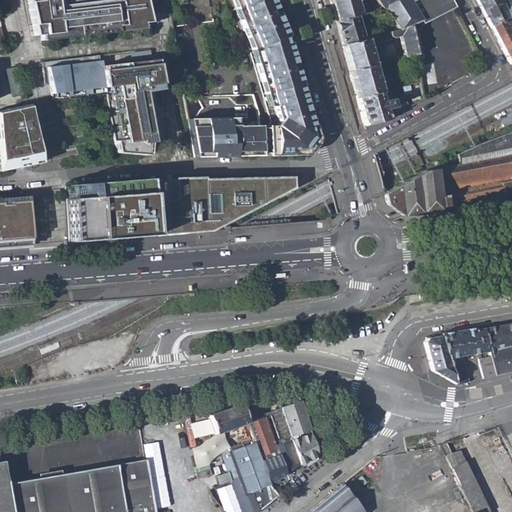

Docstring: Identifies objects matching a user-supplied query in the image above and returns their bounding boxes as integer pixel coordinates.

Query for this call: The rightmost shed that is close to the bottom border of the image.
[446,450,490,512]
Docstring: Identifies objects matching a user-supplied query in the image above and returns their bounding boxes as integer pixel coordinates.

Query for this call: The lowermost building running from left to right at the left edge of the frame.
[16,465,130,512]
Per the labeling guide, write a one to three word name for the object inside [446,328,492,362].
house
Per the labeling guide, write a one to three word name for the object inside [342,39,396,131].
house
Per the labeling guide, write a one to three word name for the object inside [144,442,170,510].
shed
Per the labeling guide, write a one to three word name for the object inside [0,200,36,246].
building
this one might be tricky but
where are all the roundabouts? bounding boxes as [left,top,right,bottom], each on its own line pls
[337,216,396,275]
